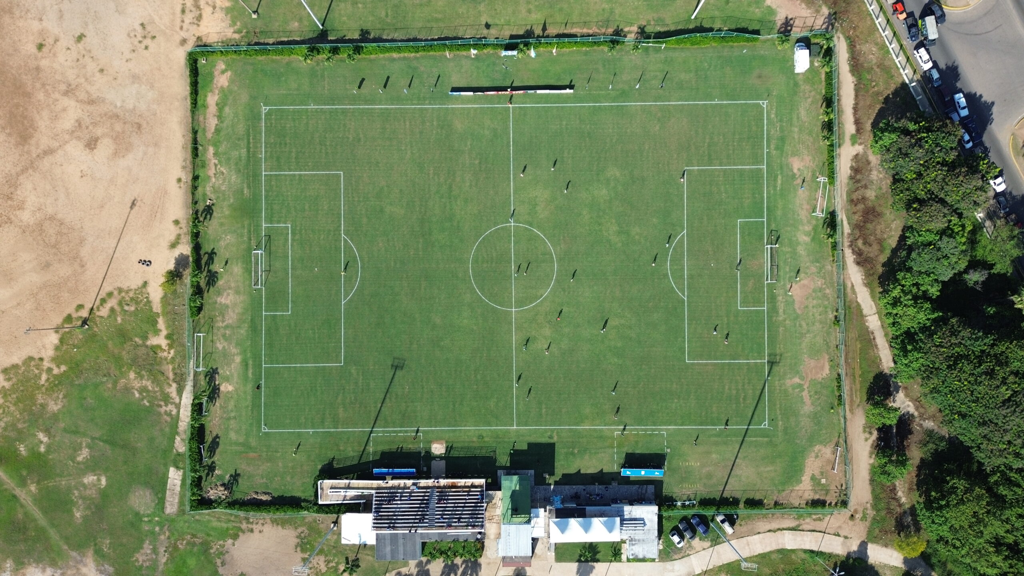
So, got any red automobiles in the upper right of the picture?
Yes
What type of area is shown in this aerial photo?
sports ground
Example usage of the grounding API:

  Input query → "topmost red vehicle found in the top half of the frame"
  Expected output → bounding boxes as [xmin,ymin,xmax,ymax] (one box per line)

[890,1,906,21]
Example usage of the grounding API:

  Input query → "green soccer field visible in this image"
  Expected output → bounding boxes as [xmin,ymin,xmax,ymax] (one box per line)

[258,98,772,468]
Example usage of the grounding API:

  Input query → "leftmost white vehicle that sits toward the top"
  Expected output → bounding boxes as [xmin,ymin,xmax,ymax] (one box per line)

[793,43,811,75]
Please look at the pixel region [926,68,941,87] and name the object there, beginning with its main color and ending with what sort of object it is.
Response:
blue car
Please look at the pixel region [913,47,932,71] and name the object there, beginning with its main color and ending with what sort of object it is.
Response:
white car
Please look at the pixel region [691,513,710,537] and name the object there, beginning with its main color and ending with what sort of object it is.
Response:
blue car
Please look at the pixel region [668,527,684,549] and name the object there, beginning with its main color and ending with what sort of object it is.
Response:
white car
